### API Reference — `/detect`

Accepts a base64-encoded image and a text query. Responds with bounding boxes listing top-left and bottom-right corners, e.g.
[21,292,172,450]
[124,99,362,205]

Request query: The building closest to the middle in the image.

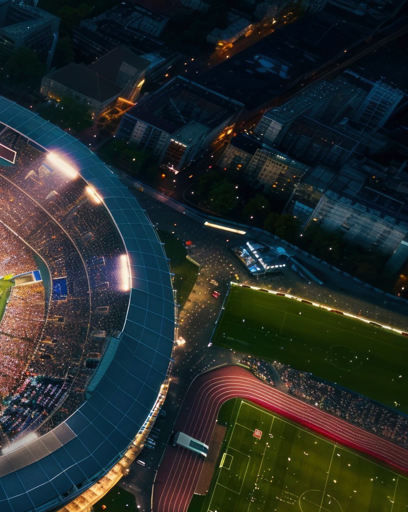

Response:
[233,233,290,272]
